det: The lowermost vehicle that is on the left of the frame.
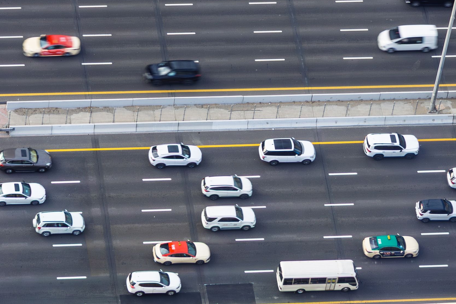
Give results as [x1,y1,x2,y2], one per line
[125,270,182,297]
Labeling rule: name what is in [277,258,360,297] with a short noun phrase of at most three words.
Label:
vehicle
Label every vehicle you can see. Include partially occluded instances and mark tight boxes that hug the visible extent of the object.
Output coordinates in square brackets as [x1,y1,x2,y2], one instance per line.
[258,138,316,166]
[0,148,54,174]
[277,258,360,297]
[147,142,203,169]
[362,233,420,259]
[446,167,456,189]
[152,239,211,265]
[0,180,46,207]
[31,211,86,238]
[24,33,79,58]
[415,198,456,223]
[199,206,257,233]
[145,60,201,88]
[363,133,420,161]
[125,270,182,297]
[200,174,254,200]
[379,25,436,54]
[406,0,455,7]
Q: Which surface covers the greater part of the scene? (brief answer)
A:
paved ground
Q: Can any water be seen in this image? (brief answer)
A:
No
